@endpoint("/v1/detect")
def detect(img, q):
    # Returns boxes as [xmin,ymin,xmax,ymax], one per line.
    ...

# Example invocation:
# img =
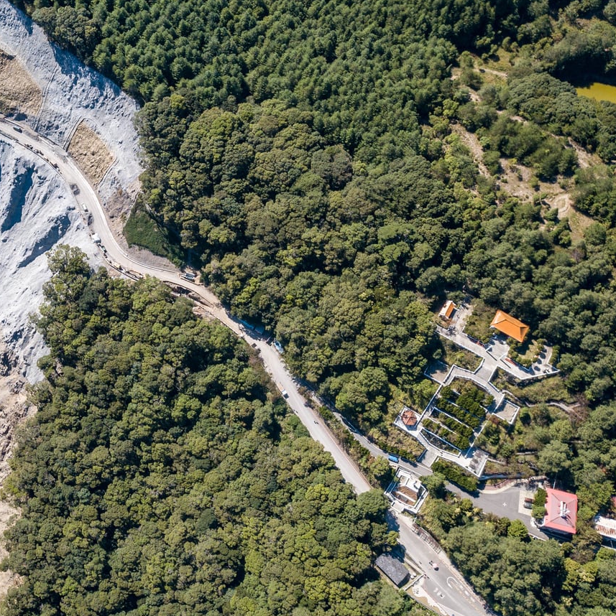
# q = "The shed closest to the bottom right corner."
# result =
[595,516,616,540]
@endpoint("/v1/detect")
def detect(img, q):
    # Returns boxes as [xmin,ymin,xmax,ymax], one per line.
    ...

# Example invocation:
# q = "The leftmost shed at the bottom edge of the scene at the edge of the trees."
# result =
[375,554,410,586]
